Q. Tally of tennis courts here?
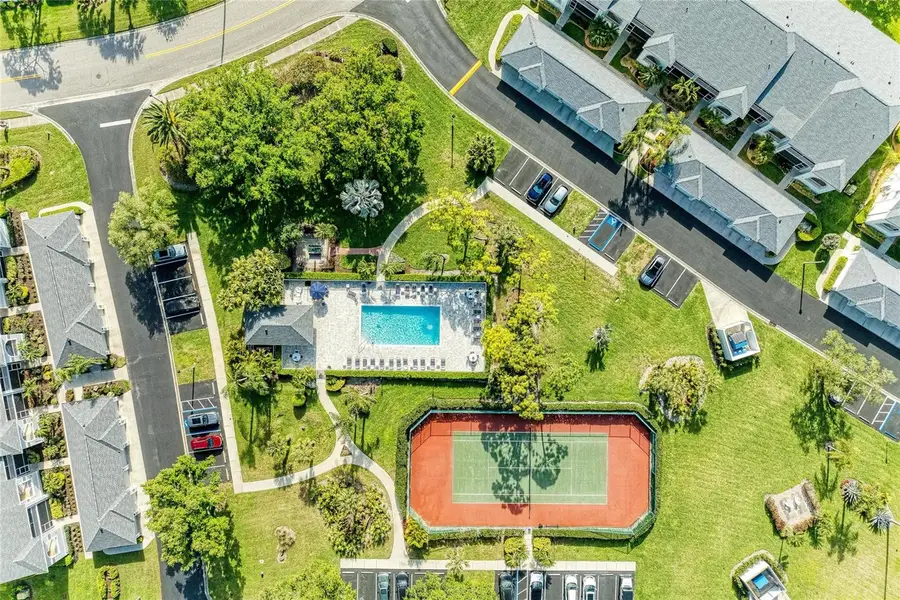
1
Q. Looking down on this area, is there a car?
Yes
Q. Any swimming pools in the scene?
Yes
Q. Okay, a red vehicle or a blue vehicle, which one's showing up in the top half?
blue vehicle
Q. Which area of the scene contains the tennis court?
bottom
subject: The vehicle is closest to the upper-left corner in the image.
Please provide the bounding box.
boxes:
[153,246,188,264]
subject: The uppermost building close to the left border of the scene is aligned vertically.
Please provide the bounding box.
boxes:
[24,212,118,367]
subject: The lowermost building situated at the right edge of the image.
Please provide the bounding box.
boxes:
[829,250,900,347]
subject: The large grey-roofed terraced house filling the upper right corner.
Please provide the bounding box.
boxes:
[572,0,900,190]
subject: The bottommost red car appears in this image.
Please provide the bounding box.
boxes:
[191,434,223,451]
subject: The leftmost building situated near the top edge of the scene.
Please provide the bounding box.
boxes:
[501,16,646,147]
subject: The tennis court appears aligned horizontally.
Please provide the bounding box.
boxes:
[412,411,650,527]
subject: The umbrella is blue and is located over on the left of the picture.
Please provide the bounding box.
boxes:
[310,282,328,300]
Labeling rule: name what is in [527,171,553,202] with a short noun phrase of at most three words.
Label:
car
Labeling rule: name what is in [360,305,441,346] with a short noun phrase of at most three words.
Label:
swimming pool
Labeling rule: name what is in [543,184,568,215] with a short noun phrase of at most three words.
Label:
car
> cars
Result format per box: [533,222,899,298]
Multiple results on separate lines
[191,434,223,451]
[153,246,188,264]
[527,171,553,202]
[583,575,598,600]
[186,411,220,427]
[530,571,545,600]
[640,256,665,287]
[499,573,514,600]
[543,184,568,215]
[395,570,410,600]
[375,571,390,600]
[167,300,200,316]
[620,576,635,600]
[564,574,579,600]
